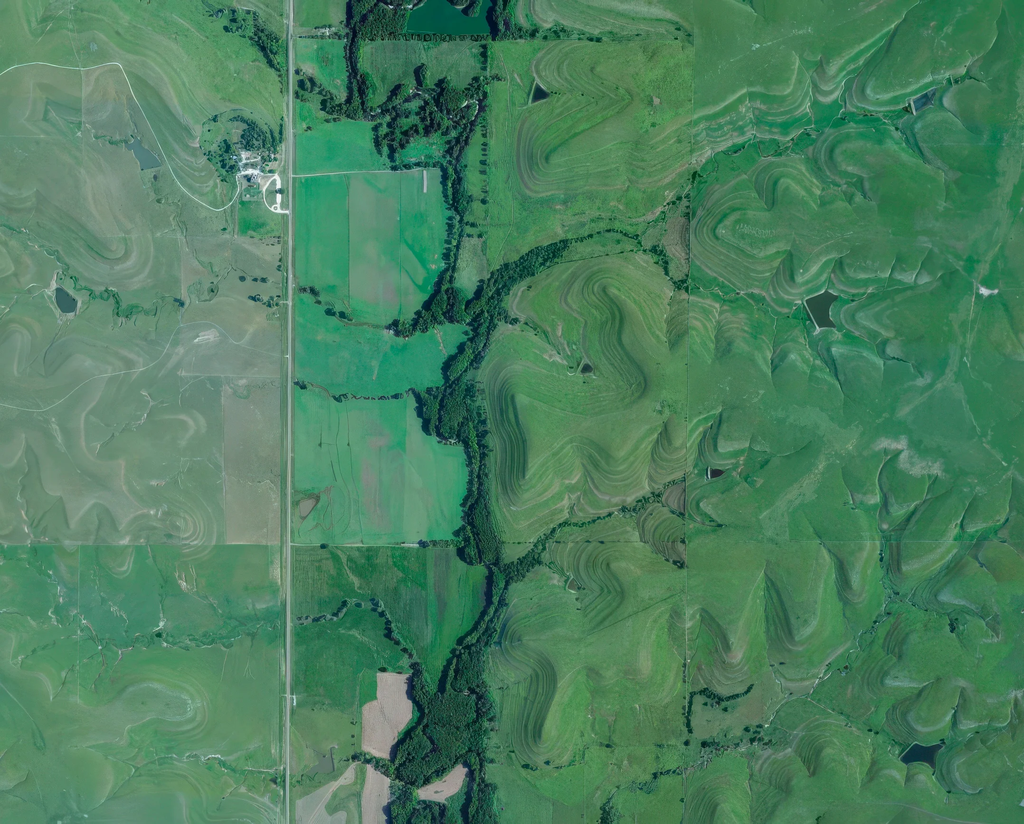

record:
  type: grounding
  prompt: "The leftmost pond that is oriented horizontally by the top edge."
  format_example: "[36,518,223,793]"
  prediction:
[404,0,492,34]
